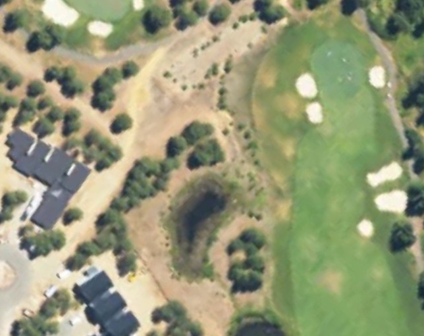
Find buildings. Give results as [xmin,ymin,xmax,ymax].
[75,263,139,336]
[1,128,91,230]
